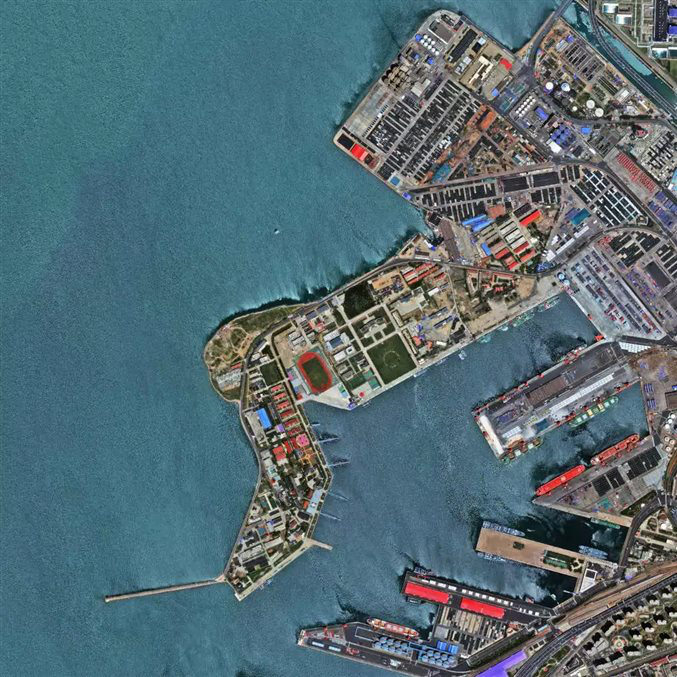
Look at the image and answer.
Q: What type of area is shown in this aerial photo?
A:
port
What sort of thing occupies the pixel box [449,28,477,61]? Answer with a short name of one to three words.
building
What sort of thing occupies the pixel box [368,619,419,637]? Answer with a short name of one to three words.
ship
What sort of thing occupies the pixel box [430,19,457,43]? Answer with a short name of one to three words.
building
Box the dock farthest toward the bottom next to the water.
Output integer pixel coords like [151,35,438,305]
[298,623,432,677]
